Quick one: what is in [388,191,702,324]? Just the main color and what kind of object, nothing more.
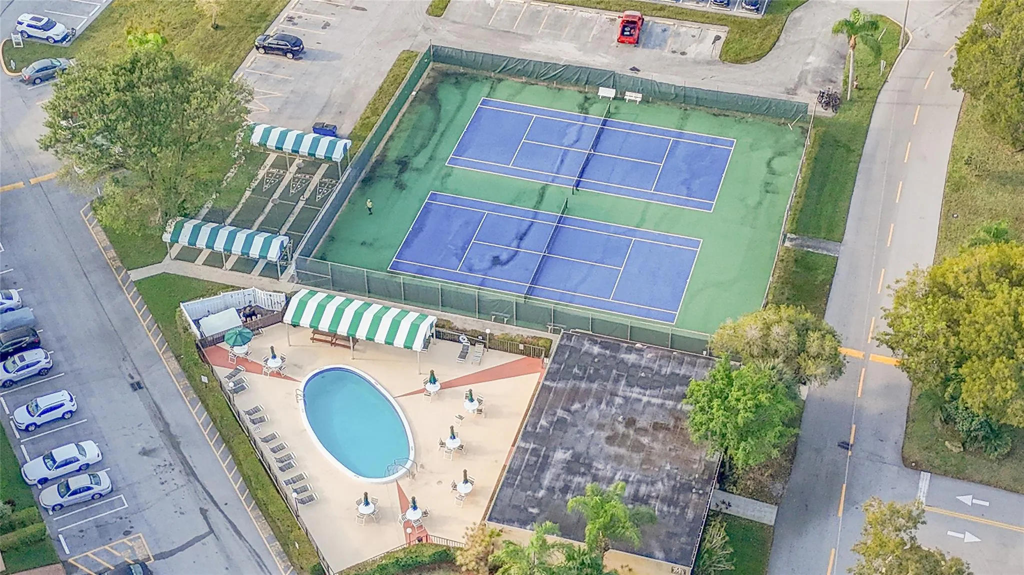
blue tennis court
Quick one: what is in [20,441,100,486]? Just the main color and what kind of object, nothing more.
white car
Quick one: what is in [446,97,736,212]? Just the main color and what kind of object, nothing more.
blue tennis court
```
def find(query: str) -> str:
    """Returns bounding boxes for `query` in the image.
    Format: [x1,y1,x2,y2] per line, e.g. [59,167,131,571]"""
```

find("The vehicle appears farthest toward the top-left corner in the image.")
[15,15,69,43]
